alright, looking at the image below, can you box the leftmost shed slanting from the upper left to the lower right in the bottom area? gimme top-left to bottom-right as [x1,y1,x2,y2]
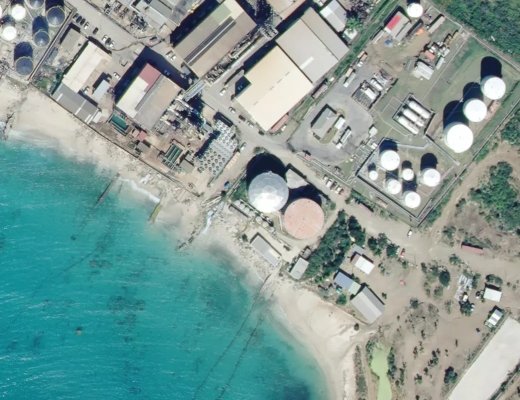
[250,234,282,266]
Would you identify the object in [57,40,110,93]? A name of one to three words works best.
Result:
shed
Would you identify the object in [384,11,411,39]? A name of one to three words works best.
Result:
building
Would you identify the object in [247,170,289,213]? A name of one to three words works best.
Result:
storage tank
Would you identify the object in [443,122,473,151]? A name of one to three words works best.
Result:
storage tank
